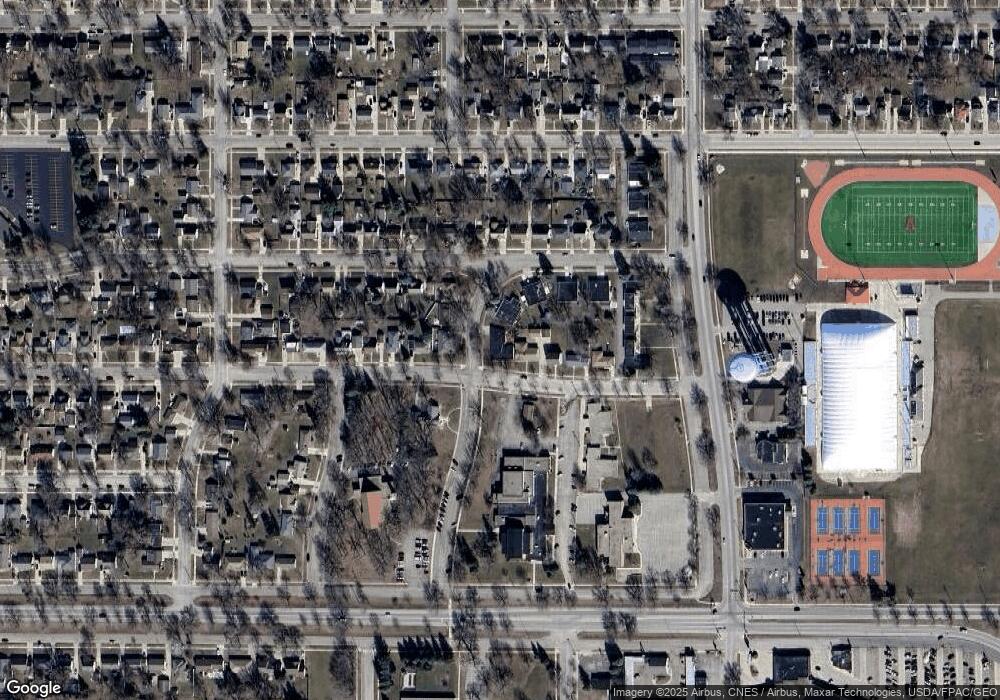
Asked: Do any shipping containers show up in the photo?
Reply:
No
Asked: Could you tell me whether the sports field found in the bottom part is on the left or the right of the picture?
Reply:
right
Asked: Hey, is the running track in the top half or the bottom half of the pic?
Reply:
top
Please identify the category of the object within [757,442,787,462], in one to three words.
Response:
building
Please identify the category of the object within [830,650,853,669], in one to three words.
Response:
building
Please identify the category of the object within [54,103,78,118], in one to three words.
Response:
house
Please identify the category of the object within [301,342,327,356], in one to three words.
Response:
house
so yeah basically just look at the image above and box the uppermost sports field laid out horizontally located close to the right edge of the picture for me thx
[820,182,1000,266]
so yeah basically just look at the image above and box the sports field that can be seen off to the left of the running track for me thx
[711,155,797,296]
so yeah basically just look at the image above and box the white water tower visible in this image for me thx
[728,350,776,382]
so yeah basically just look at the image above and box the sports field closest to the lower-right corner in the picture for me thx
[887,299,1000,602]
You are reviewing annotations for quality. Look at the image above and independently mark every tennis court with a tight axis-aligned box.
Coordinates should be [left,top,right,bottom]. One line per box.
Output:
[832,550,844,576]
[848,550,860,576]
[866,508,880,533]
[848,508,860,533]
[815,550,828,576]
[815,508,828,533]
[832,508,844,533]
[866,550,880,576]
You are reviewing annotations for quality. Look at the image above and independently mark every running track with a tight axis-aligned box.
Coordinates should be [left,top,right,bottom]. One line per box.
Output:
[808,168,1000,280]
